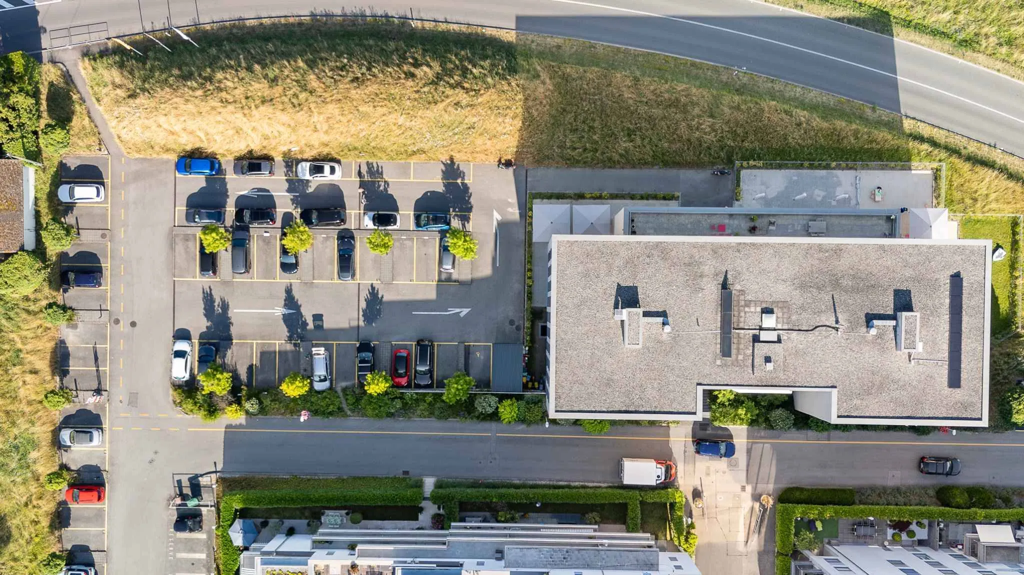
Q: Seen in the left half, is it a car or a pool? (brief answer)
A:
car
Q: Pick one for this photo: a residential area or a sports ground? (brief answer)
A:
residential area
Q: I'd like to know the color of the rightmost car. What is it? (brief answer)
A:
black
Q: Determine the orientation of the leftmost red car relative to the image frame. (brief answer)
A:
from side to side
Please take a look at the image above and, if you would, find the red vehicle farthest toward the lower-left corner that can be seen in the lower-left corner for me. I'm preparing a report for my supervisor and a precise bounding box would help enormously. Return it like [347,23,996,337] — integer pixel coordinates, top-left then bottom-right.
[67,485,107,505]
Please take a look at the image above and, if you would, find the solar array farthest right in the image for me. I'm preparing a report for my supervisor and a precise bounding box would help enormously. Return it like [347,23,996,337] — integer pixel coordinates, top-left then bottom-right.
[949,277,962,388]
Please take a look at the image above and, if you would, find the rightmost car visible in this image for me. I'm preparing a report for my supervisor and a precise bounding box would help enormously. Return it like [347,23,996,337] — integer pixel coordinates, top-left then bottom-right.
[917,456,960,478]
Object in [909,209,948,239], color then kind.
white umbrella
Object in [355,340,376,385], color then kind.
black car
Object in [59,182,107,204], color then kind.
white car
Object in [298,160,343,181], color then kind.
white car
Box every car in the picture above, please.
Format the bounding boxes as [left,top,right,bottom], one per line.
[298,160,343,181]
[355,340,376,385]
[196,342,218,382]
[234,157,277,178]
[176,515,203,534]
[335,231,356,279]
[310,348,331,391]
[63,269,105,289]
[233,229,253,275]
[59,182,107,204]
[413,341,434,385]
[917,456,960,478]
[177,155,221,177]
[60,428,104,449]
[390,349,411,387]
[438,235,456,274]
[279,239,300,274]
[693,439,734,460]
[197,238,219,277]
[301,206,347,228]
[236,207,278,227]
[414,211,452,232]
[171,339,194,382]
[364,210,401,230]
[67,485,107,505]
